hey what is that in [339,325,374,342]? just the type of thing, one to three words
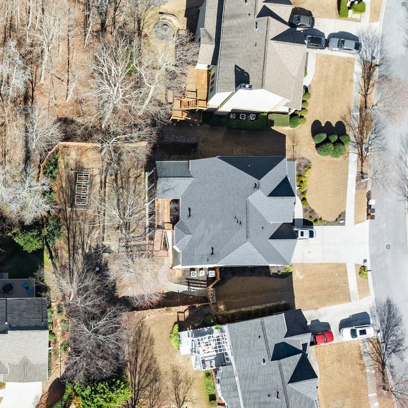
car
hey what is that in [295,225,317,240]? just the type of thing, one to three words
car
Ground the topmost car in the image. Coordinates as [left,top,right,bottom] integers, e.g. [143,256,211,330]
[288,11,315,29]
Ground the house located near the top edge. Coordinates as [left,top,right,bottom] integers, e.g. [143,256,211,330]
[171,0,307,123]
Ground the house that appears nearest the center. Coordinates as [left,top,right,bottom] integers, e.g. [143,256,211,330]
[150,156,298,270]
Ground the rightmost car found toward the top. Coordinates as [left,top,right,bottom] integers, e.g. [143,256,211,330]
[328,36,361,53]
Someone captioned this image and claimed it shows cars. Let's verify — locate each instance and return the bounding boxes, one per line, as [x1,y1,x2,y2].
[339,325,374,342]
[328,36,361,53]
[295,225,317,240]
[308,330,334,347]
[288,11,315,29]
[305,32,329,50]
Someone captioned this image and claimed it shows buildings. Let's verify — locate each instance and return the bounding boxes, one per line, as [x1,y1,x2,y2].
[150,156,298,270]
[0,273,48,382]
[171,0,307,123]
[179,309,319,408]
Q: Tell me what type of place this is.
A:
residential area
